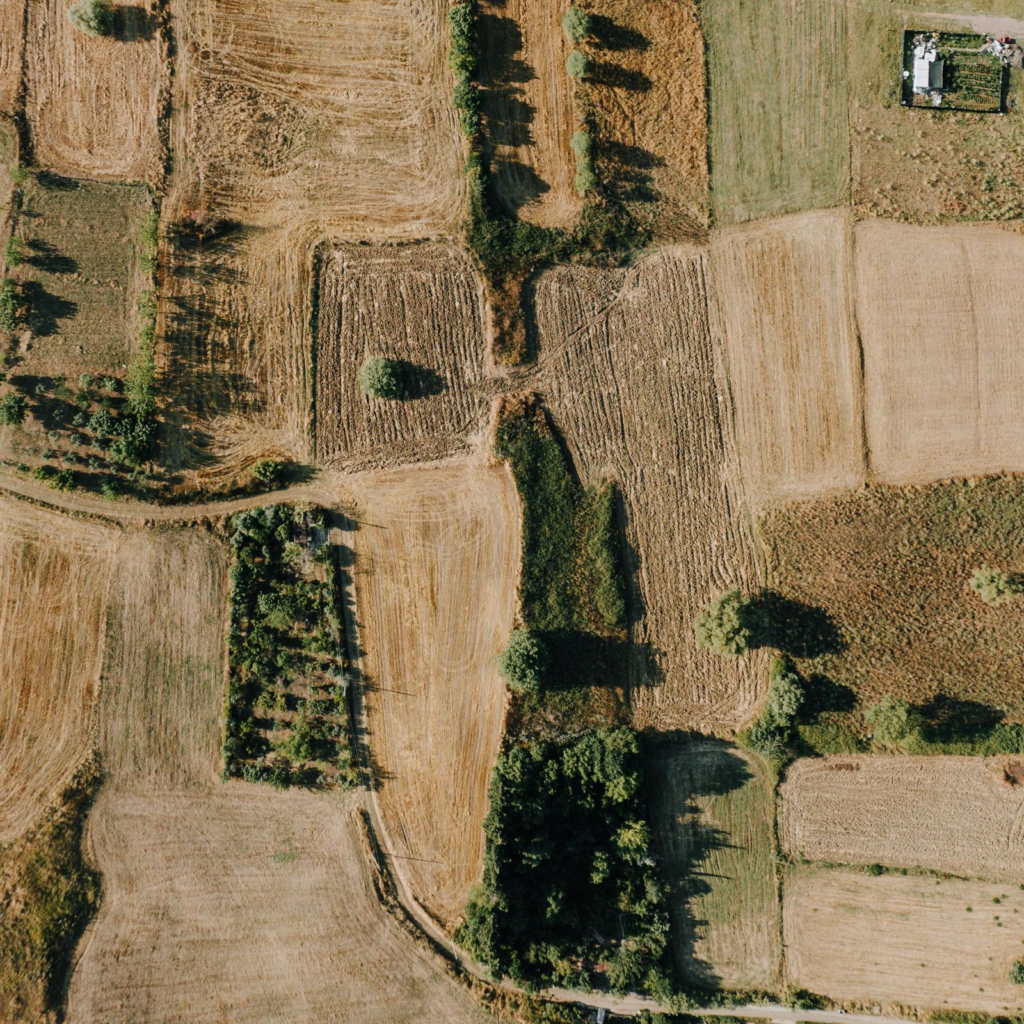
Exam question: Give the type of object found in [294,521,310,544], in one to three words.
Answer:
shed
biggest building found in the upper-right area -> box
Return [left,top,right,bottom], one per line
[912,60,941,92]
